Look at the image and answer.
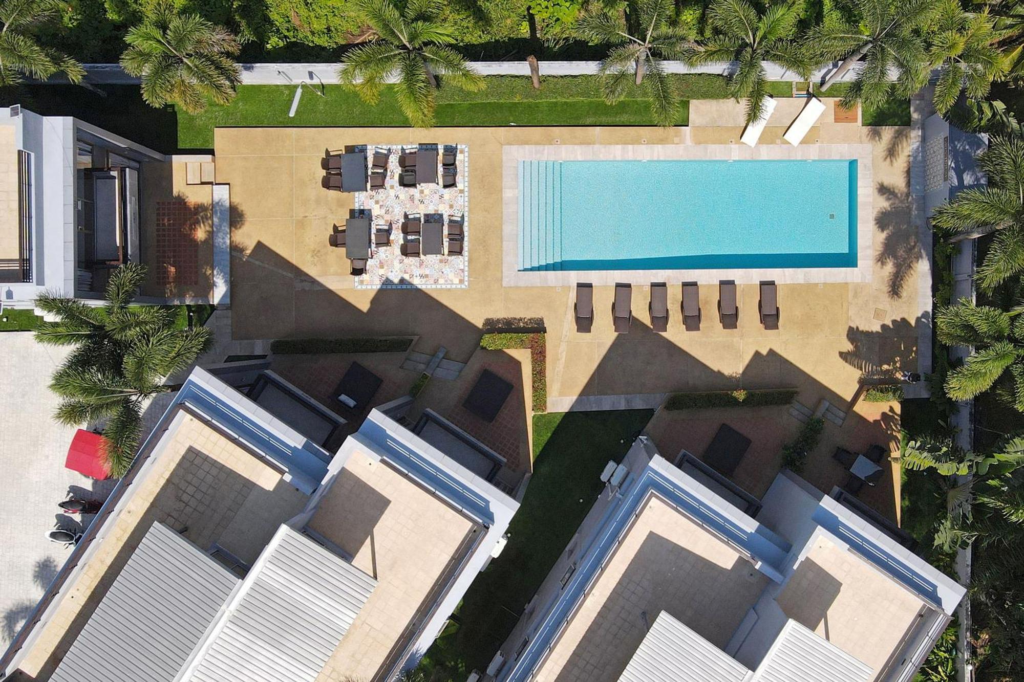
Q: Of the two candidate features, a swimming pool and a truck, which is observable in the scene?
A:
swimming pool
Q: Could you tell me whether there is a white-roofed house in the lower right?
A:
Yes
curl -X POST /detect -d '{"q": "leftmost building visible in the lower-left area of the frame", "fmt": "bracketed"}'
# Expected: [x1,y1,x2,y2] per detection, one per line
[0,359,346,682]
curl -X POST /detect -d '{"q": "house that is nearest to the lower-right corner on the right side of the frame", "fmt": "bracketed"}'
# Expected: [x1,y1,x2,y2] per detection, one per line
[730,465,973,682]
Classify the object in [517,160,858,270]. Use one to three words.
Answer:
swimming pool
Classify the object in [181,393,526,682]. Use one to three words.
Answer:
house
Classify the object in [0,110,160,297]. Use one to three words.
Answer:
house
